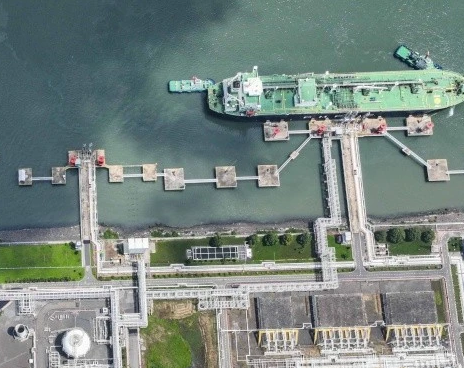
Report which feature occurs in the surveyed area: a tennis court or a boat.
boat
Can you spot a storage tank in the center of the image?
No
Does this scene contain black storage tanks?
No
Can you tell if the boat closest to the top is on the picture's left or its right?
right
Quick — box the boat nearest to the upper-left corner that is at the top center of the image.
[167,77,211,94]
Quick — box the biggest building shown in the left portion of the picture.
[127,238,148,256]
